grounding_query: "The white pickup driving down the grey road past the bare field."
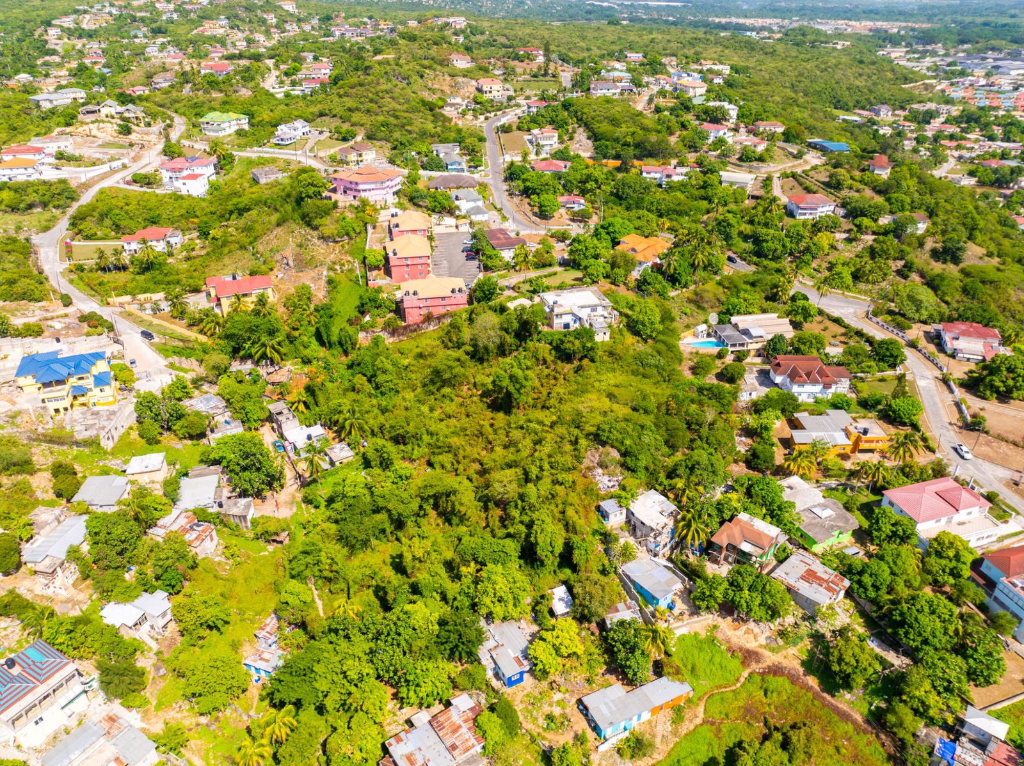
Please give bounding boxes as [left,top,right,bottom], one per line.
[951,440,977,461]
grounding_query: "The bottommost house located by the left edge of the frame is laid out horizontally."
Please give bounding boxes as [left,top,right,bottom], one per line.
[49,715,158,766]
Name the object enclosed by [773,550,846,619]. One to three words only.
house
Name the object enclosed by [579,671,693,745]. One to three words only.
house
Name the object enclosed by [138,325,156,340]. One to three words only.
car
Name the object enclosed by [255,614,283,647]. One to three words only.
shed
